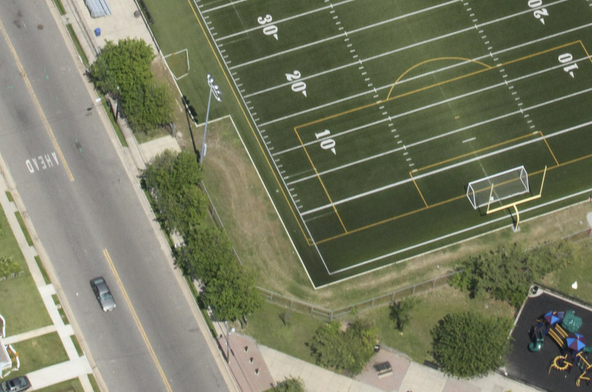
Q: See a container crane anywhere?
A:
No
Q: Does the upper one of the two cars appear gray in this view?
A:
Yes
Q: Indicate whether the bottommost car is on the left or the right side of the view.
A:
left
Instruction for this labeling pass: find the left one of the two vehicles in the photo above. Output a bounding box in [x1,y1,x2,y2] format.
[0,372,33,392]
